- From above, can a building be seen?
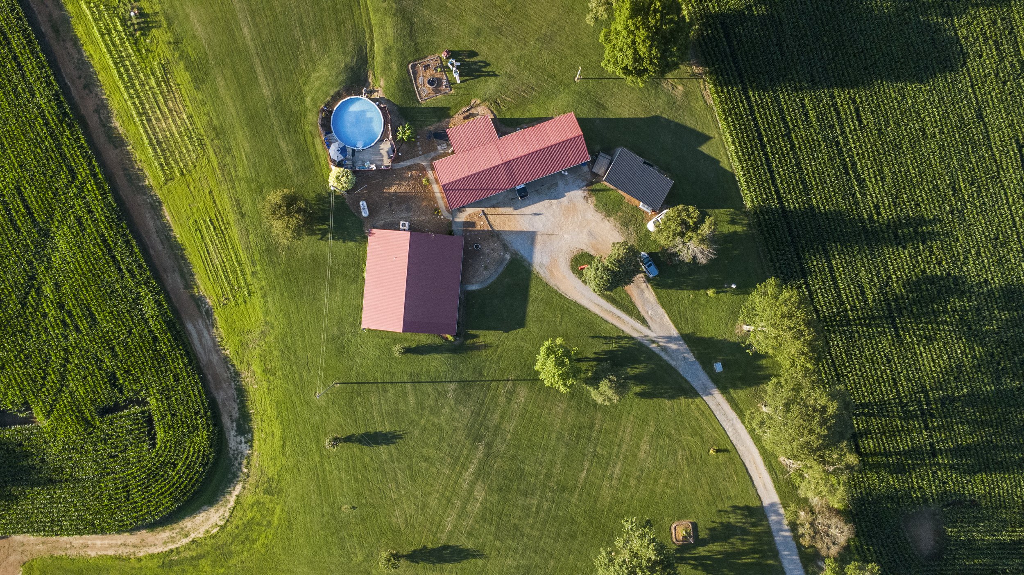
Yes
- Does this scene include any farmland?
Yes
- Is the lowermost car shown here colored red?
No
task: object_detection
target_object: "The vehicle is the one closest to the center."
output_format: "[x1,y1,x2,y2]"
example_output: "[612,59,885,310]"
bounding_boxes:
[514,184,532,205]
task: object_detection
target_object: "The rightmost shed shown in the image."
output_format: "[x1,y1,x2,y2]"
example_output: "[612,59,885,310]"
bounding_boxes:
[603,148,675,212]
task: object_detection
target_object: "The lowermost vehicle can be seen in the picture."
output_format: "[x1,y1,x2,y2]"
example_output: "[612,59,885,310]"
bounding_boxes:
[639,251,662,281]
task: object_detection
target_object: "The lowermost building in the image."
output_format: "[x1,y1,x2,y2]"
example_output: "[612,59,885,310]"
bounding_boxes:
[361,229,465,339]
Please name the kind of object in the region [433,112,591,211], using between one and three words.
house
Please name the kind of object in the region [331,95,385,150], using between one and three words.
swimming pool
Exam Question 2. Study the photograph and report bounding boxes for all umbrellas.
[330,142,348,160]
